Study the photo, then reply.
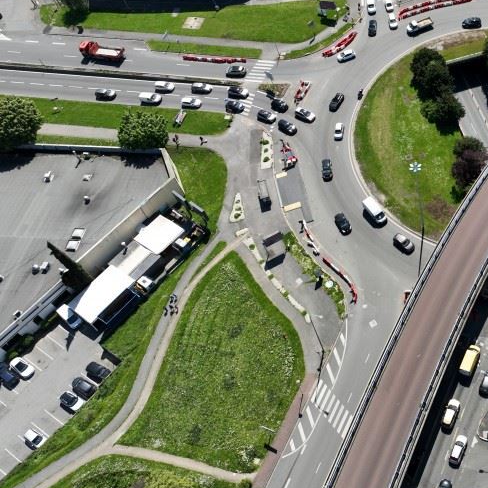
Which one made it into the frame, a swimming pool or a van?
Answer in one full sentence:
The image shows a van.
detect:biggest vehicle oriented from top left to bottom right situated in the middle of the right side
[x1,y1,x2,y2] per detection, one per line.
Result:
[360,196,388,225]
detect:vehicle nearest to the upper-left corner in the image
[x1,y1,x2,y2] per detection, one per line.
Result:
[81,41,122,61]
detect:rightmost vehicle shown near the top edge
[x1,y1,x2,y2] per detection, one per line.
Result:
[462,17,482,29]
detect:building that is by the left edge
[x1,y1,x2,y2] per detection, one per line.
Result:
[0,152,186,363]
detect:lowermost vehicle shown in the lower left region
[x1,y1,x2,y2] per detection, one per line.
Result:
[20,425,51,452]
